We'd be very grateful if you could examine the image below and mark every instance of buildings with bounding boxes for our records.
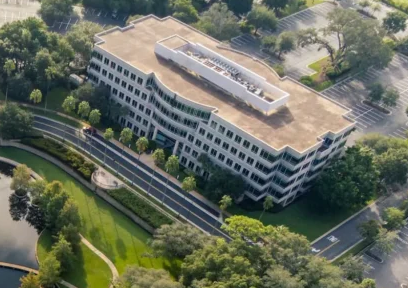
[89,14,356,214]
